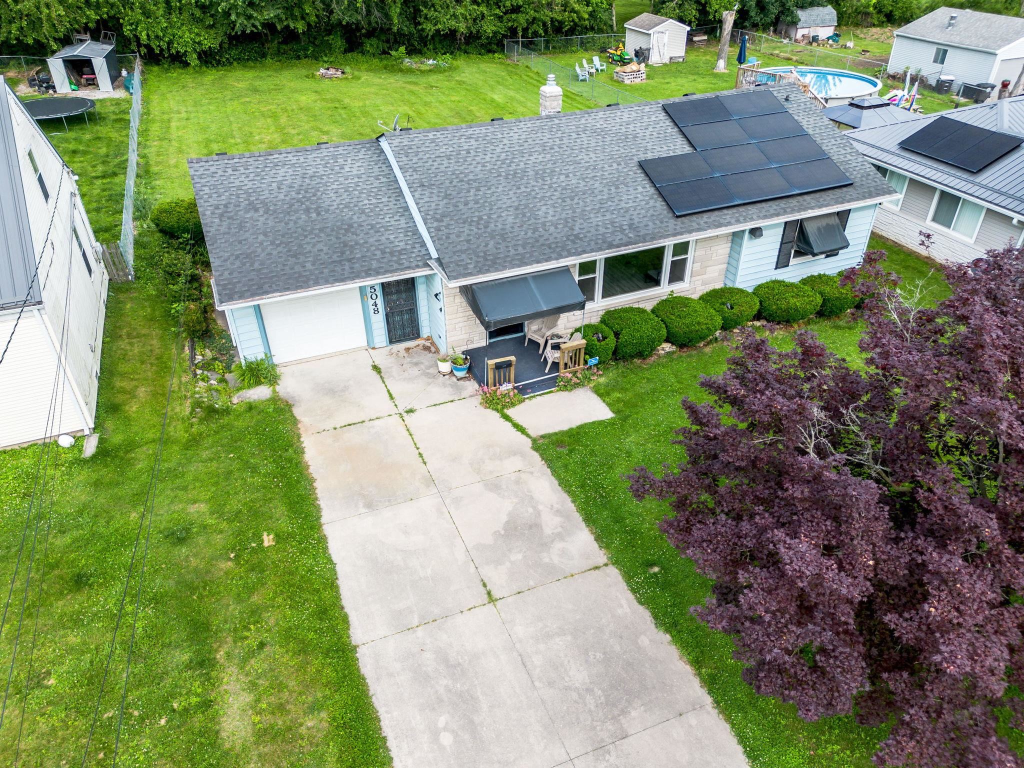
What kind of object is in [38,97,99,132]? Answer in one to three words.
trampoline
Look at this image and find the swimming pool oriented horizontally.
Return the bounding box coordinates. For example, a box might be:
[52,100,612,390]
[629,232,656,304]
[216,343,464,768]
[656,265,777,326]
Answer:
[747,64,885,107]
